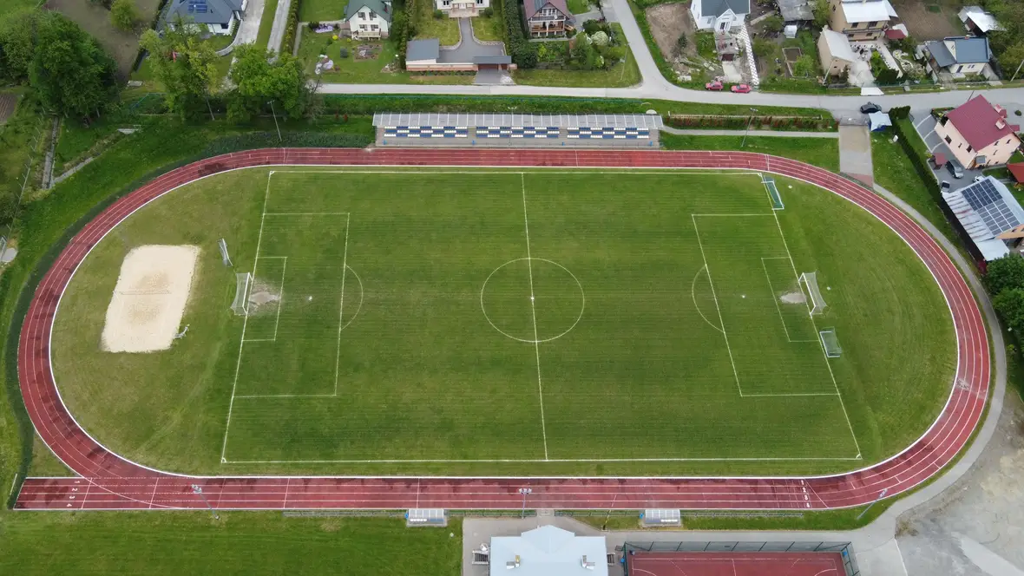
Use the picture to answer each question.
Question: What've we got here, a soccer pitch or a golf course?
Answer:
soccer pitch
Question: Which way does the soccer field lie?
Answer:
from side to side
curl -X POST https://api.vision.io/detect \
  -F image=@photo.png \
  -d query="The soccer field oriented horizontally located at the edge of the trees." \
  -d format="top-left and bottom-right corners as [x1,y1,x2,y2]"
[214,171,863,469]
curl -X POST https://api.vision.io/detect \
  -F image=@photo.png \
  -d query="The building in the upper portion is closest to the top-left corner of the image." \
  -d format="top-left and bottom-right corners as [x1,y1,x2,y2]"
[166,0,236,36]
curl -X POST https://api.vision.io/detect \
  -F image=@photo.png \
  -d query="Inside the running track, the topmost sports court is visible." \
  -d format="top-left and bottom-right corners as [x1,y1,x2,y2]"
[101,245,200,352]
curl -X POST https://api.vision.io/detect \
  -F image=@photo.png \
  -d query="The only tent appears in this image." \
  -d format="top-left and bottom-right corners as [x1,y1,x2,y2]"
[869,113,892,133]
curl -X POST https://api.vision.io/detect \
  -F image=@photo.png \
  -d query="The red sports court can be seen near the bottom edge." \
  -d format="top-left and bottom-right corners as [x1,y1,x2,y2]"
[628,552,847,576]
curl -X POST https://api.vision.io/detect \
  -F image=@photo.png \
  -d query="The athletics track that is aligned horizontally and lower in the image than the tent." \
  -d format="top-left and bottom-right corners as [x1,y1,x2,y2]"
[14,147,990,511]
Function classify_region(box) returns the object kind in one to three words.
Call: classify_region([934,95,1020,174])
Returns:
house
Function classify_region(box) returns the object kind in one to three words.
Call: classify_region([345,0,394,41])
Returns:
house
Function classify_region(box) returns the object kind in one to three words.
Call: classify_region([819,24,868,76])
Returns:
barn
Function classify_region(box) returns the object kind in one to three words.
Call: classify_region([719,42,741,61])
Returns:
building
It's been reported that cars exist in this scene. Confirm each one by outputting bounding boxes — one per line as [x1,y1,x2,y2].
[705,81,725,91]
[970,172,984,181]
[947,158,966,177]
[730,84,753,93]
[860,104,884,114]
